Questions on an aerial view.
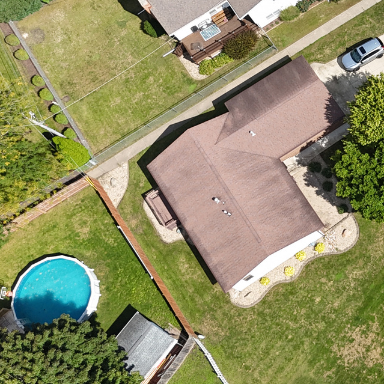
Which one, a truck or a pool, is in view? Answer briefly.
pool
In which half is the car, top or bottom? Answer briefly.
top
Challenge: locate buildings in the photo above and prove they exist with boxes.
[118,309,186,378]
[136,0,302,53]
[146,56,342,293]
